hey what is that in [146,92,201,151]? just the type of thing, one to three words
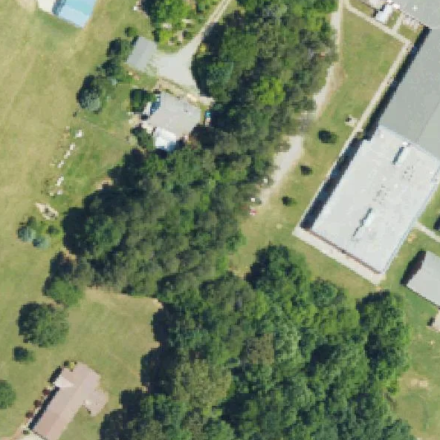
house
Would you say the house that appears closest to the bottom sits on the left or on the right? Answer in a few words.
left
